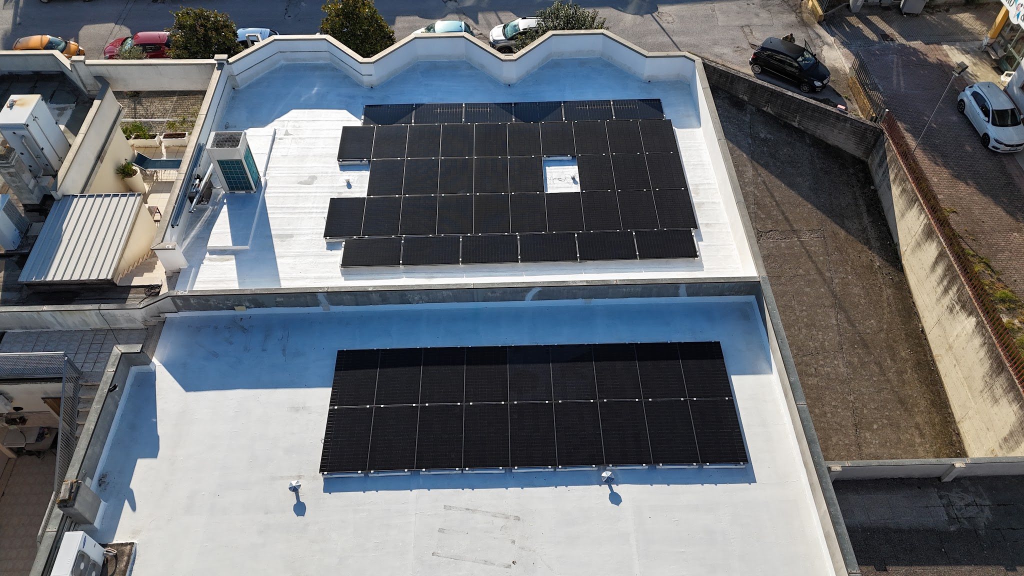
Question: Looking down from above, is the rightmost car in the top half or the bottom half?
top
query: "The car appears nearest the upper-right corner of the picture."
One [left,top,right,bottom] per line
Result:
[959,84,1024,154]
